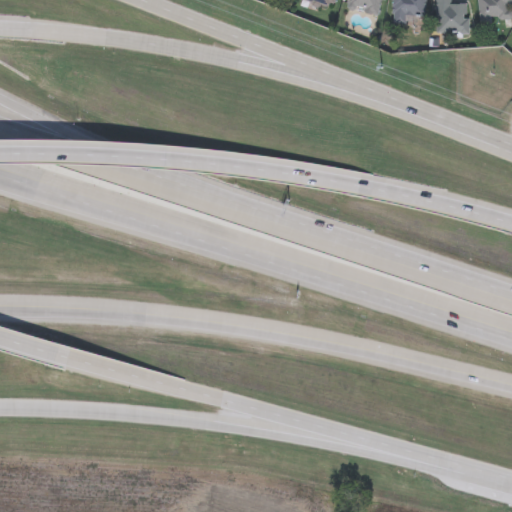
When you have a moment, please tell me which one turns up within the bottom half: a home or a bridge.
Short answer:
bridge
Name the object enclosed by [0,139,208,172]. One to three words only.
bridge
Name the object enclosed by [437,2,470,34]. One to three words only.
house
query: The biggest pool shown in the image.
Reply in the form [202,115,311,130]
[350,14,372,28]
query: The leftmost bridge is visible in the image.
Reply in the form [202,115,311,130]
[0,326,66,370]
